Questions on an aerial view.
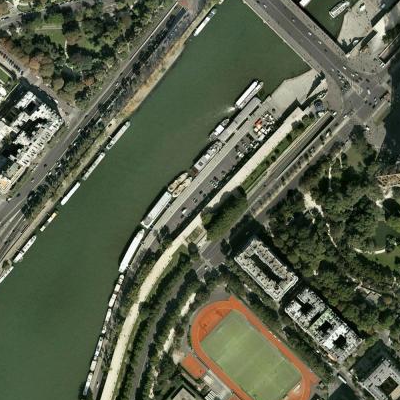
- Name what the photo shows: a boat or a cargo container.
boat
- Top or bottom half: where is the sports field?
bottom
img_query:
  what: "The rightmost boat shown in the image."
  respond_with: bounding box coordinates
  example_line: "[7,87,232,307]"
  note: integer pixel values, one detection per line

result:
[329,4,349,20]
